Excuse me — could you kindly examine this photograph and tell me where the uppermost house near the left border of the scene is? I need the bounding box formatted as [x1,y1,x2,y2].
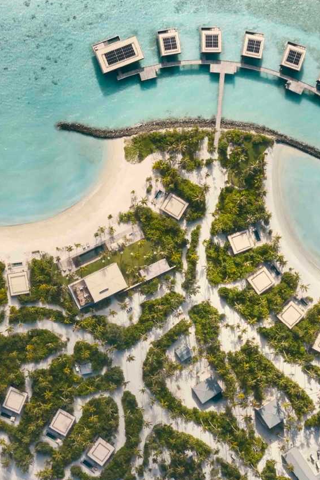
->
[6,260,30,295]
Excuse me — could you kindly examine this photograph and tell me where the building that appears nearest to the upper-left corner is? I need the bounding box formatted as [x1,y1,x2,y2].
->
[93,35,144,74]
